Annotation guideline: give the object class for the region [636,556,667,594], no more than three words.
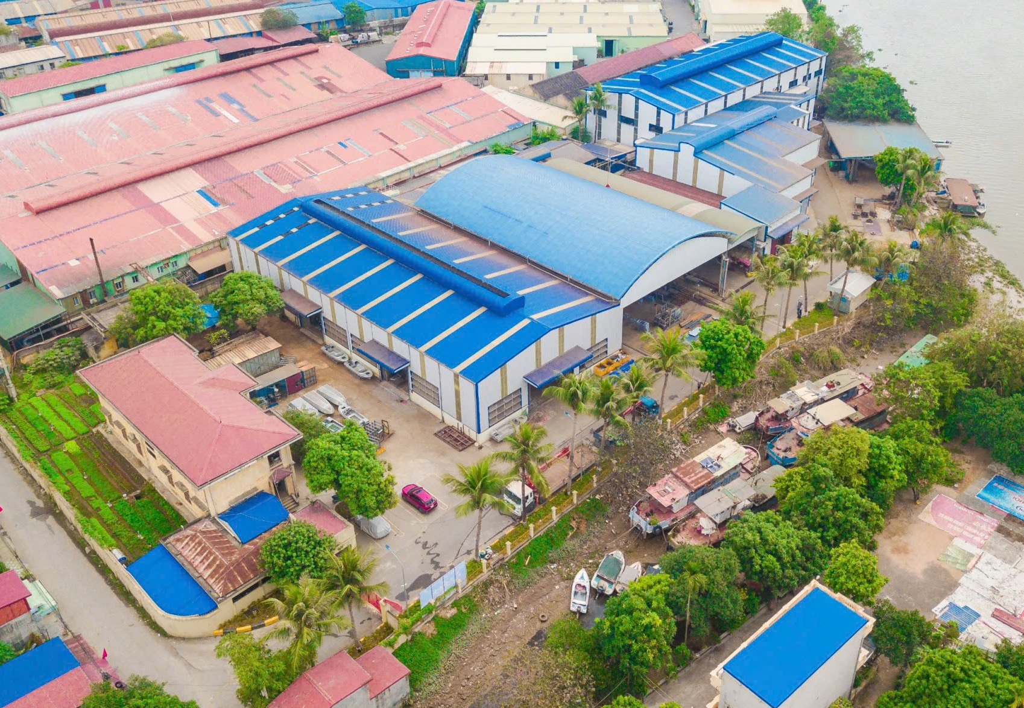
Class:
boat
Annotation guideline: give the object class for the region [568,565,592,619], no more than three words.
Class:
boat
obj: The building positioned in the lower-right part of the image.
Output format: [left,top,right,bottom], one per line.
[700,569,869,708]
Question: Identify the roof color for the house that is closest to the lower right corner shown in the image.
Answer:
blue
